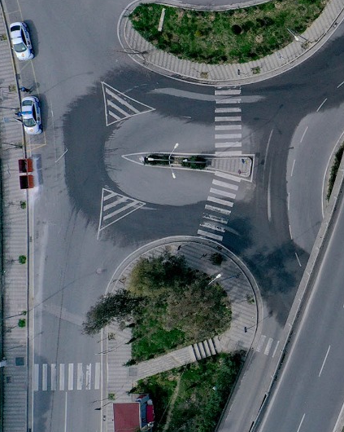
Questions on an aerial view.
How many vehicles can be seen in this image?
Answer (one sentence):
The number of vehicles here is 2.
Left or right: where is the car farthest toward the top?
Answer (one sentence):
The car farthest toward the top appears in the left half of the scene.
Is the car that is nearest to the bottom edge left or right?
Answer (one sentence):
You can find the car that is nearest to the bottom edge on the left side of the picture.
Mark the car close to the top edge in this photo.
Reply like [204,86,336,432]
[10,21,36,62]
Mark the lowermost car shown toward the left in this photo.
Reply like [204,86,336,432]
[21,97,45,136]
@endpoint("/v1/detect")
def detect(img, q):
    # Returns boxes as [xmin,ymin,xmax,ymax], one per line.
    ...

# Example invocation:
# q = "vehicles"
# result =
[21,97,45,136]
[10,21,36,62]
